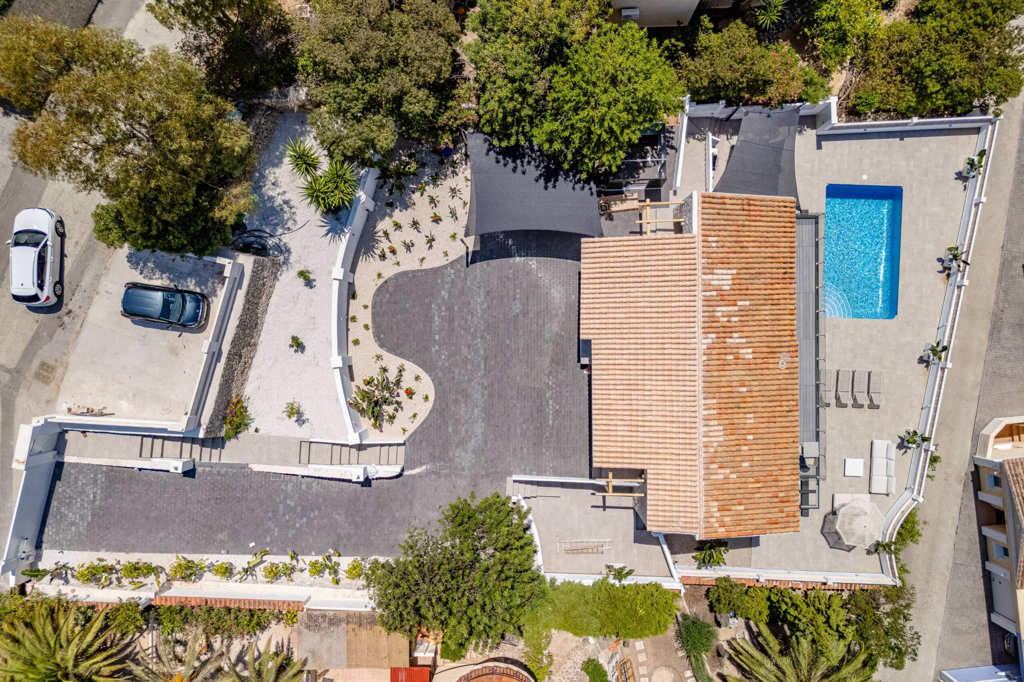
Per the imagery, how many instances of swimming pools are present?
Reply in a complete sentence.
The picture shows just 1 swimming pool.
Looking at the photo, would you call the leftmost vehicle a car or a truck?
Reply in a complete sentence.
The leftmost vehicle can be classified as a car.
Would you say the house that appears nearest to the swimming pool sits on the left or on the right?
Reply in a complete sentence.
The house that appears nearest to the swimming pool appears in the right half of the scene.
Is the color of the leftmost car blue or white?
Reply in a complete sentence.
The leftmost car is white.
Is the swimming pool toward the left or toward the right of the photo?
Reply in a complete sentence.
The swimming pool is on the right side of the image.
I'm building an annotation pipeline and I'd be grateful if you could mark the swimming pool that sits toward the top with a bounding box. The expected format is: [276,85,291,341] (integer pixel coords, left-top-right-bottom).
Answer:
[822,184,903,319]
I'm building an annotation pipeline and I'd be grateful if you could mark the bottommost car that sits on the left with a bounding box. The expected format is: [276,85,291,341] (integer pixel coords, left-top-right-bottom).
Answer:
[120,277,216,328]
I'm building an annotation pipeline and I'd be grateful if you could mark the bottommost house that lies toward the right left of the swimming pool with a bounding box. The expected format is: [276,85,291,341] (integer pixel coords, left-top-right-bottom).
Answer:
[578,191,818,541]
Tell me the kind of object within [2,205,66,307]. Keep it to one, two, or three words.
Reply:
car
